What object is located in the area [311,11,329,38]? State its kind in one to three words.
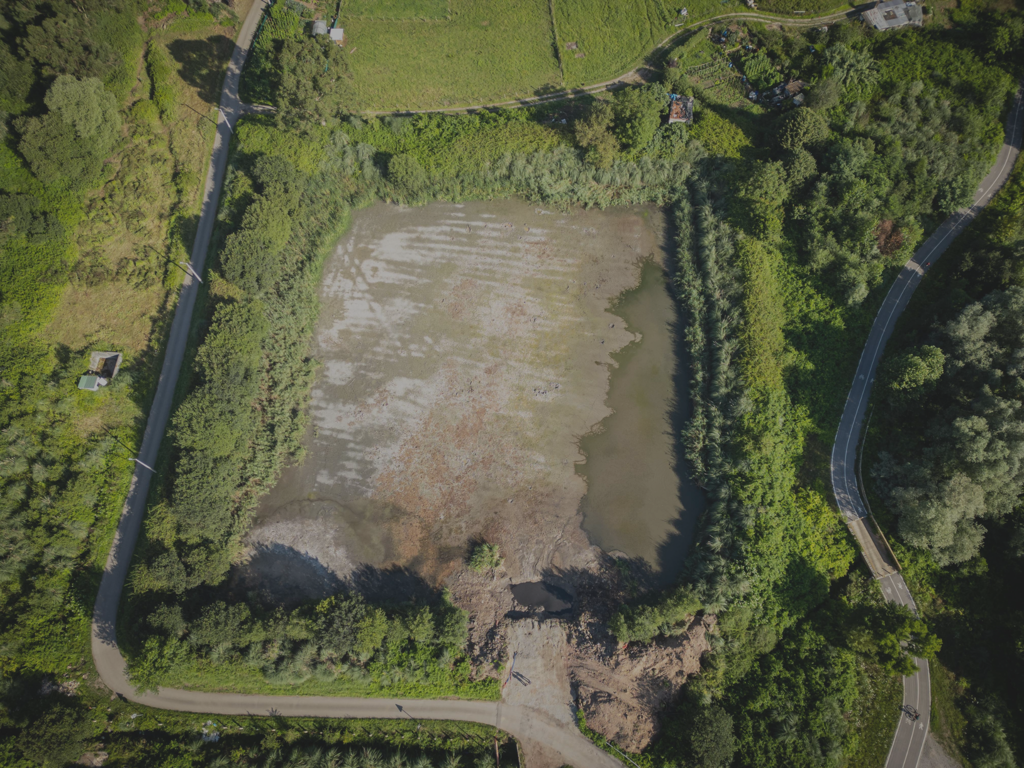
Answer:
greenhouse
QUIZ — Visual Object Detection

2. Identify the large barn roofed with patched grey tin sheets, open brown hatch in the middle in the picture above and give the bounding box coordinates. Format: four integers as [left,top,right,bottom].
[859,0,923,34]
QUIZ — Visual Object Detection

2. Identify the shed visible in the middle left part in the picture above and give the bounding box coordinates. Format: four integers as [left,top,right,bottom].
[79,376,104,393]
